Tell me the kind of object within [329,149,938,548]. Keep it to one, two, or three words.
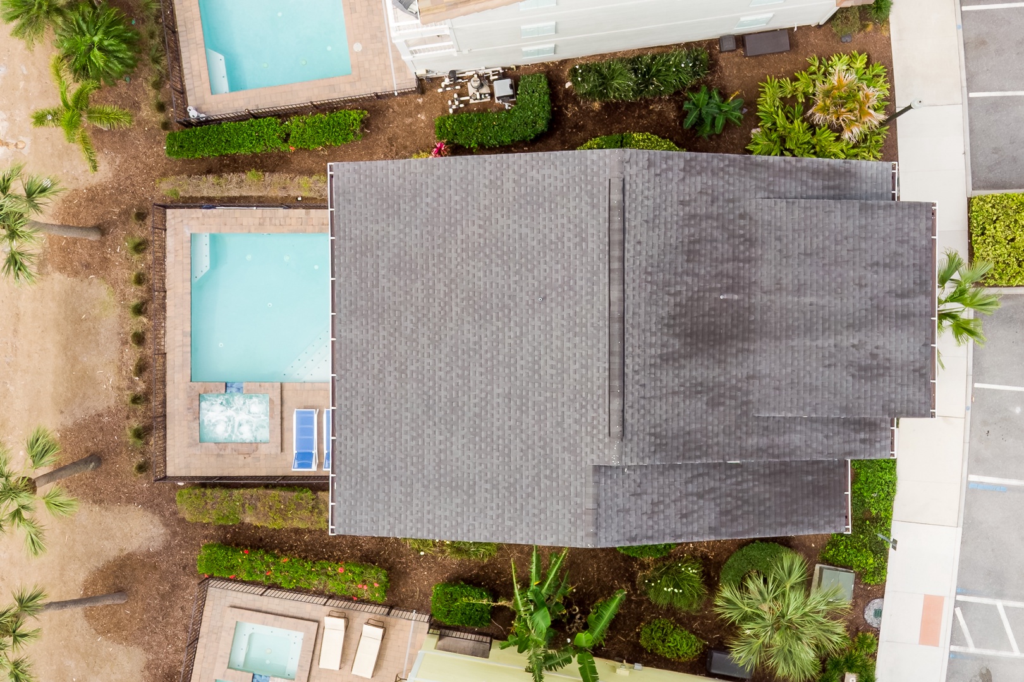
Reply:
house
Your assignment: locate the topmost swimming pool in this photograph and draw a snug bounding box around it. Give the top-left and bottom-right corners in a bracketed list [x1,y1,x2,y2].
[188,0,361,104]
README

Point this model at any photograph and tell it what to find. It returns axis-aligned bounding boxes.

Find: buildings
[383,0,877,77]
[413,634,709,682]
[329,149,938,548]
